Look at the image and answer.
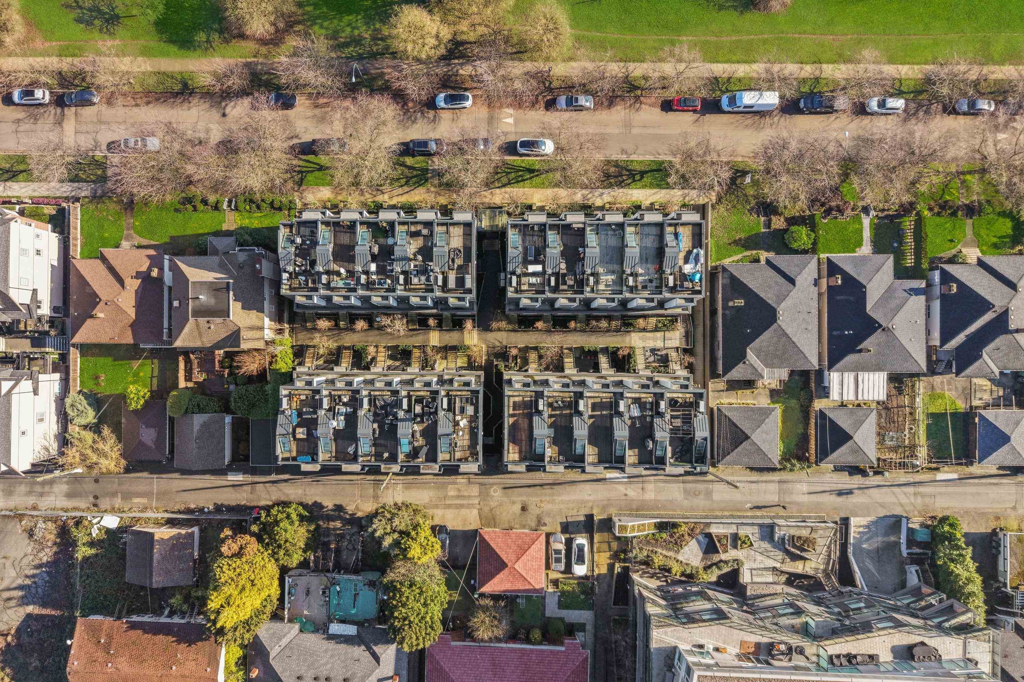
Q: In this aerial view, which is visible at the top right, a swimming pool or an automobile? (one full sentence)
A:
The one visible at the top right is an automobile.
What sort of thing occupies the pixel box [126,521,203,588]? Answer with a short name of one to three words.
shed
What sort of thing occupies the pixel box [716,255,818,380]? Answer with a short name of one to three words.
house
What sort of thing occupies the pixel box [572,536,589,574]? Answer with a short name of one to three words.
car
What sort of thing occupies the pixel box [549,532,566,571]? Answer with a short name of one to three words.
car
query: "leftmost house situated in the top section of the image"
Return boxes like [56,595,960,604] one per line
[0,202,70,330]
